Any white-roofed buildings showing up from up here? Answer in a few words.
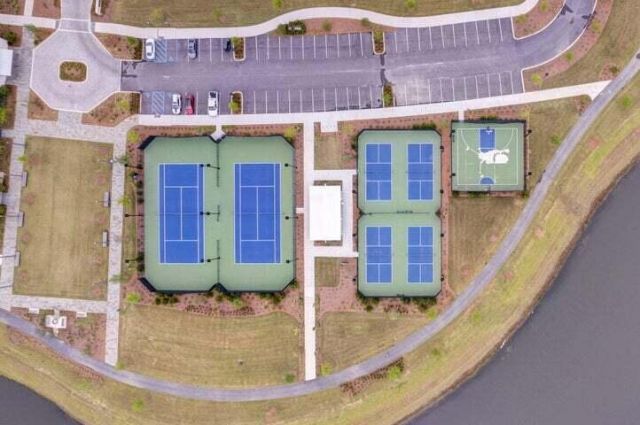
Yes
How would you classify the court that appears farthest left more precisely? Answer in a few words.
tennis court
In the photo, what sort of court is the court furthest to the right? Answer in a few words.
basketball court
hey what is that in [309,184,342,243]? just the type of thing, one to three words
building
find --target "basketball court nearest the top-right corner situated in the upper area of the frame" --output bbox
[452,122,524,190]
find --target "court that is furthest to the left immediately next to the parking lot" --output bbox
[144,136,218,291]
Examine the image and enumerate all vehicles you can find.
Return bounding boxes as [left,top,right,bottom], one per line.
[184,93,196,114]
[171,93,183,114]
[209,90,221,116]
[188,38,199,58]
[145,38,156,59]
[224,39,233,52]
